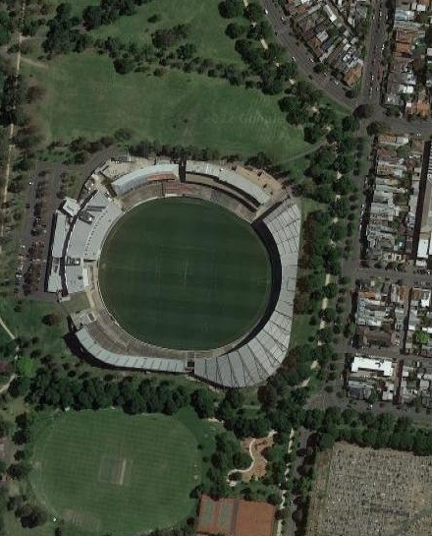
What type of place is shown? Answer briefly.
sports ground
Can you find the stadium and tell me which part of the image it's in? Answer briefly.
center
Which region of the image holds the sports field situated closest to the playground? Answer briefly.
bottom left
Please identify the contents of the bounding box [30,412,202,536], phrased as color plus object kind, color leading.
green sports field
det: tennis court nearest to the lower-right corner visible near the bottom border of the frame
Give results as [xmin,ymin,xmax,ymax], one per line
[236,499,275,536]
